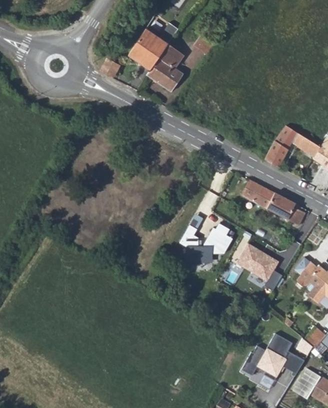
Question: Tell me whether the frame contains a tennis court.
No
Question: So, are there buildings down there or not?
Yes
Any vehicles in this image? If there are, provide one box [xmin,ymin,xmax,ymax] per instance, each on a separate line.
[215,135,226,142]
[297,180,308,188]
[208,214,218,222]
